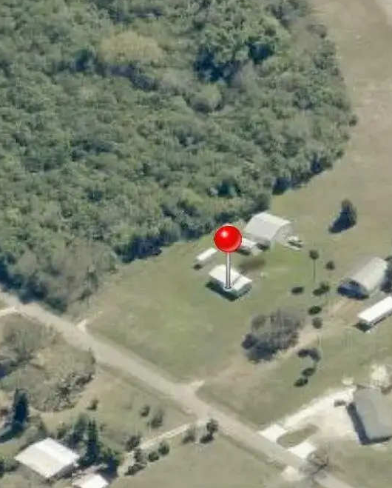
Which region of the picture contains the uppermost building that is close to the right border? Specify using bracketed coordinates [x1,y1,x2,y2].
[342,257,389,295]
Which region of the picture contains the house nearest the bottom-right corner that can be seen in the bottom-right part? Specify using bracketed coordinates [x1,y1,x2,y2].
[348,391,392,449]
